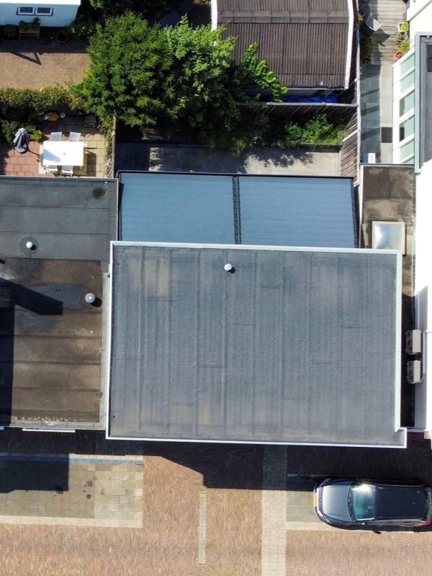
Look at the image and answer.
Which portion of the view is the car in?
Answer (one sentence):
You can find the car in the bottom right area of the picture.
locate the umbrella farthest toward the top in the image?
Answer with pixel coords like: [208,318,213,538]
[14,139,28,158]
